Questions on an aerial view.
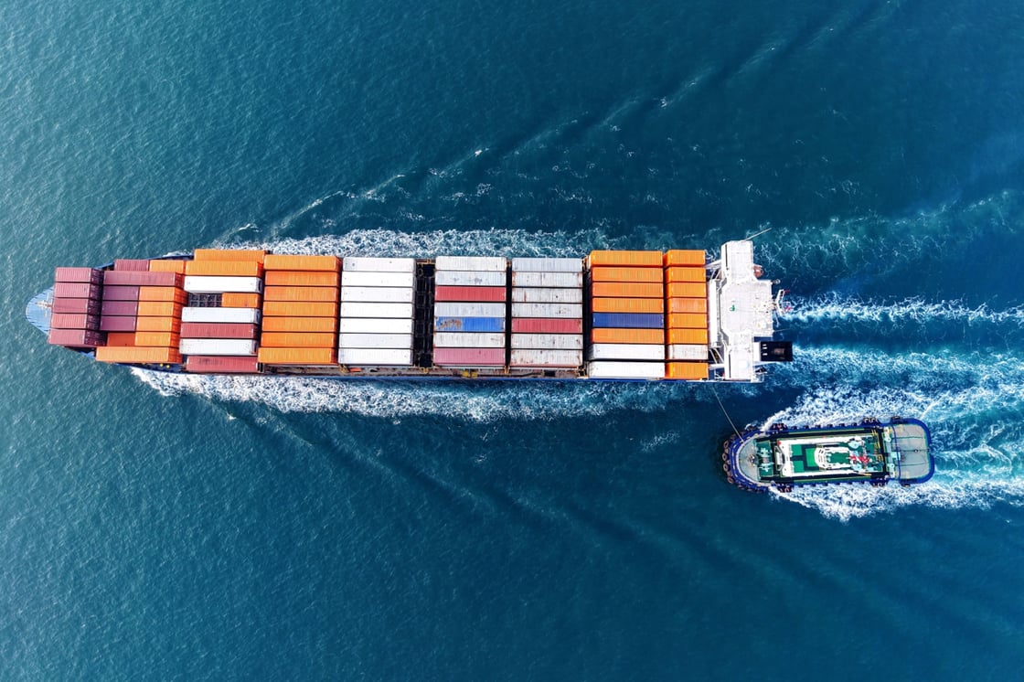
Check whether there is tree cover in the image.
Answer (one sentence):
No, the scene doesn't show any tree cover.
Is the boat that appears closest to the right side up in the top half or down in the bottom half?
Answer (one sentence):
The bottom half of the photo is where the boat that appears closest to the right side is.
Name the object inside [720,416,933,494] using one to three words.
boat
